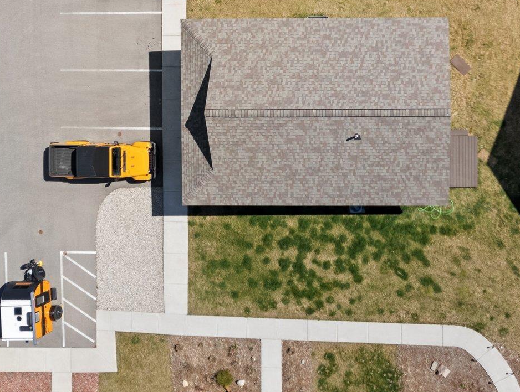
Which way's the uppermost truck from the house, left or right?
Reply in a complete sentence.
The uppermost truck is to the left of the house.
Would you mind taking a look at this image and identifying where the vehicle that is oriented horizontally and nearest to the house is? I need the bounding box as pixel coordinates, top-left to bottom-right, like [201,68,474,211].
[48,140,157,182]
